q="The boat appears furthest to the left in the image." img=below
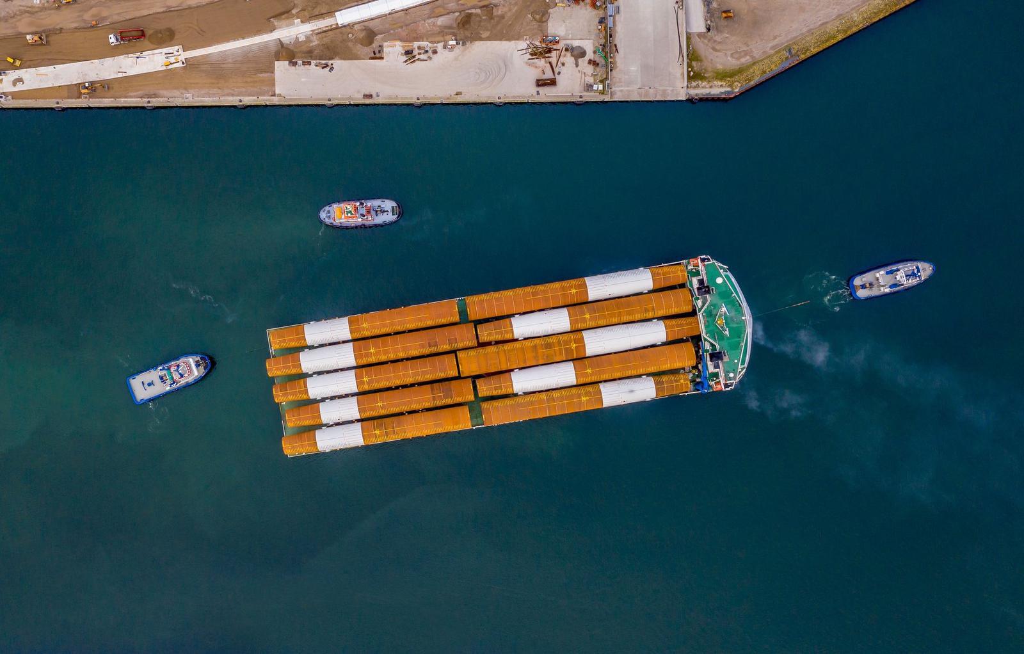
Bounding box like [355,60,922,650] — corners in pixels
[126,354,212,405]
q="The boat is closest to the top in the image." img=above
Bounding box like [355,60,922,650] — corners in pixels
[319,199,402,230]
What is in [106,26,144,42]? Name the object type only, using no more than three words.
vehicle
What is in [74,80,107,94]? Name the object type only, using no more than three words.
work vehicle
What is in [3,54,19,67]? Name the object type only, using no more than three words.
vehicle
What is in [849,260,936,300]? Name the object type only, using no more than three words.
boat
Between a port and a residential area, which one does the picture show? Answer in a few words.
port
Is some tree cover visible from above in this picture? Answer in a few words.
No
